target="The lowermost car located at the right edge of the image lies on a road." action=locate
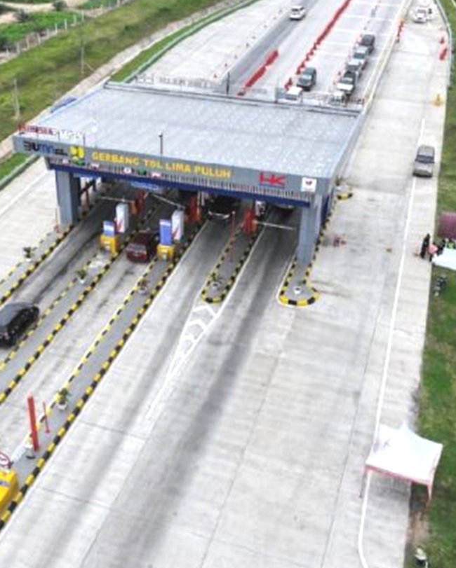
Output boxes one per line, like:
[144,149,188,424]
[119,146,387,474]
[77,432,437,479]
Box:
[413,140,440,174]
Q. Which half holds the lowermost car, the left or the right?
left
